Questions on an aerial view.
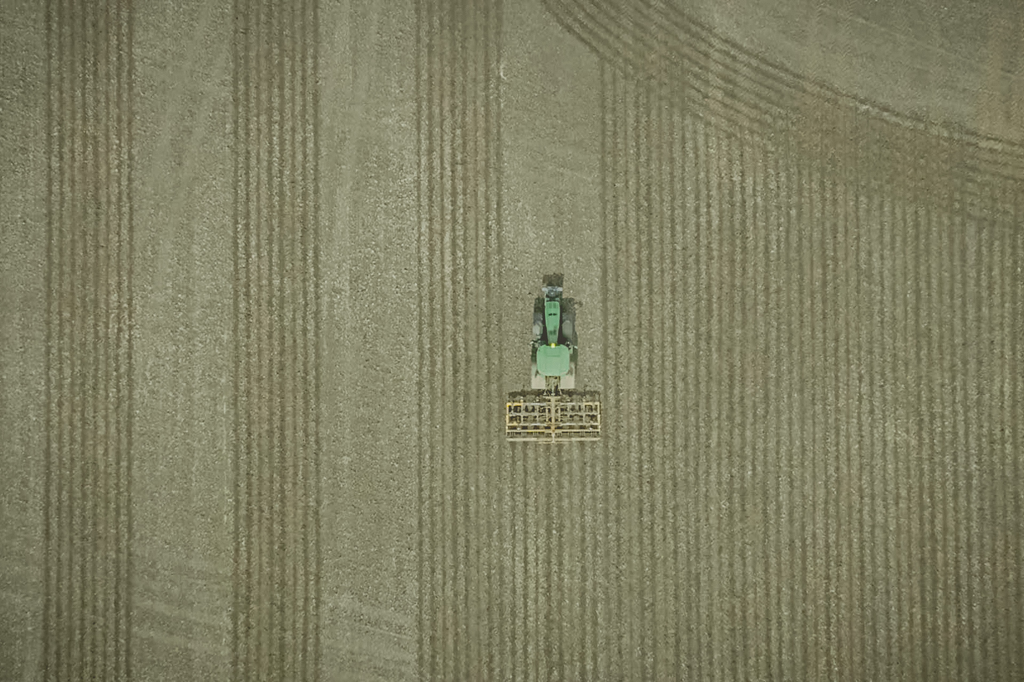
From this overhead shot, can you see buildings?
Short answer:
No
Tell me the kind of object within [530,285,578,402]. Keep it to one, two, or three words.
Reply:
work vehicle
